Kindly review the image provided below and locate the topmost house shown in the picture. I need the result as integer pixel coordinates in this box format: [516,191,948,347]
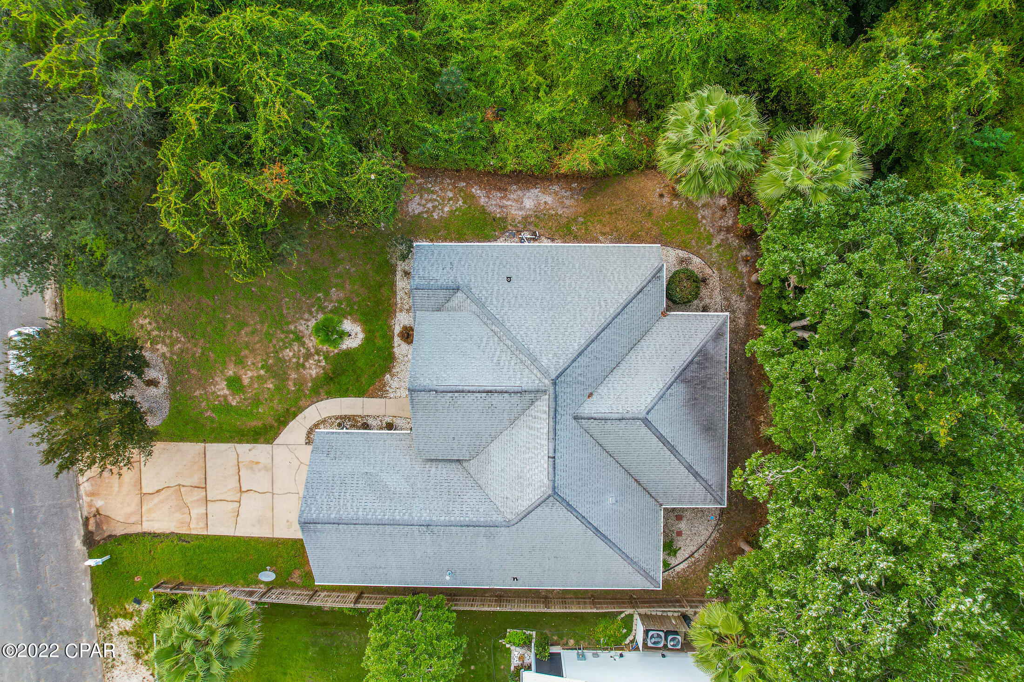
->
[298,242,731,589]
